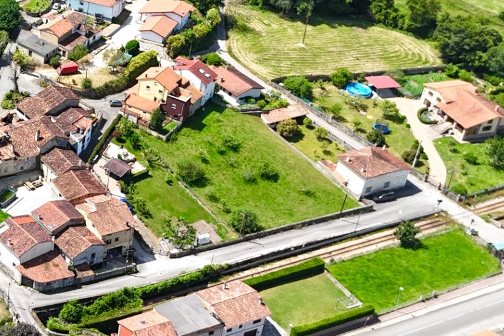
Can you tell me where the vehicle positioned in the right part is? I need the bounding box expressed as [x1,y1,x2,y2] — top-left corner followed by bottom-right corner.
[372,192,395,205]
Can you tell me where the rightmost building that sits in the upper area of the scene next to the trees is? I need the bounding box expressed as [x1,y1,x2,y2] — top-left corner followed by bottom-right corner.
[421,71,504,142]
